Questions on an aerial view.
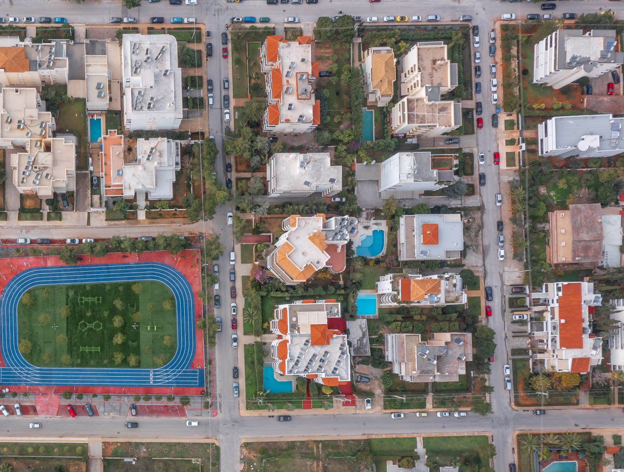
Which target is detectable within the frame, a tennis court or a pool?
pool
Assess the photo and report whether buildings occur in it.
Yes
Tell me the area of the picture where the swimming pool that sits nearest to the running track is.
bottom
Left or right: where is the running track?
left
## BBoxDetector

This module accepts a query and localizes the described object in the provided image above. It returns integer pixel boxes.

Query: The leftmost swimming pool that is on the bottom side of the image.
[262,366,294,394]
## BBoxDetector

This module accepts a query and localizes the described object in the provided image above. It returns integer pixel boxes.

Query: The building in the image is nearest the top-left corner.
[0,37,69,82]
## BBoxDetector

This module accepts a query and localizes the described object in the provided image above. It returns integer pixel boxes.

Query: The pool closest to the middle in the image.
[355,228,386,258]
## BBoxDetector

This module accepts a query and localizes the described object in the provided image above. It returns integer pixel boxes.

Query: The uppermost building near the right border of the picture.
[532,30,624,91]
